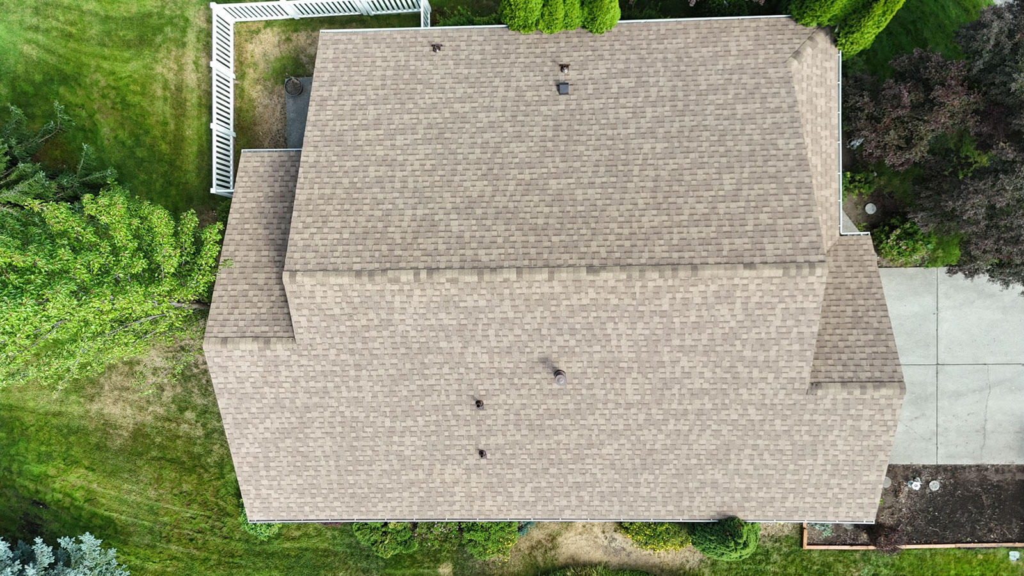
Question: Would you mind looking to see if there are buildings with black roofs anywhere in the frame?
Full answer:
No, I can't see a single building with a black roof in this photo.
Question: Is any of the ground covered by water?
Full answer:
No, water can't be seen anywhere here.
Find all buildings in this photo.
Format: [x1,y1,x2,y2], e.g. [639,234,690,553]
[208,14,905,526]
